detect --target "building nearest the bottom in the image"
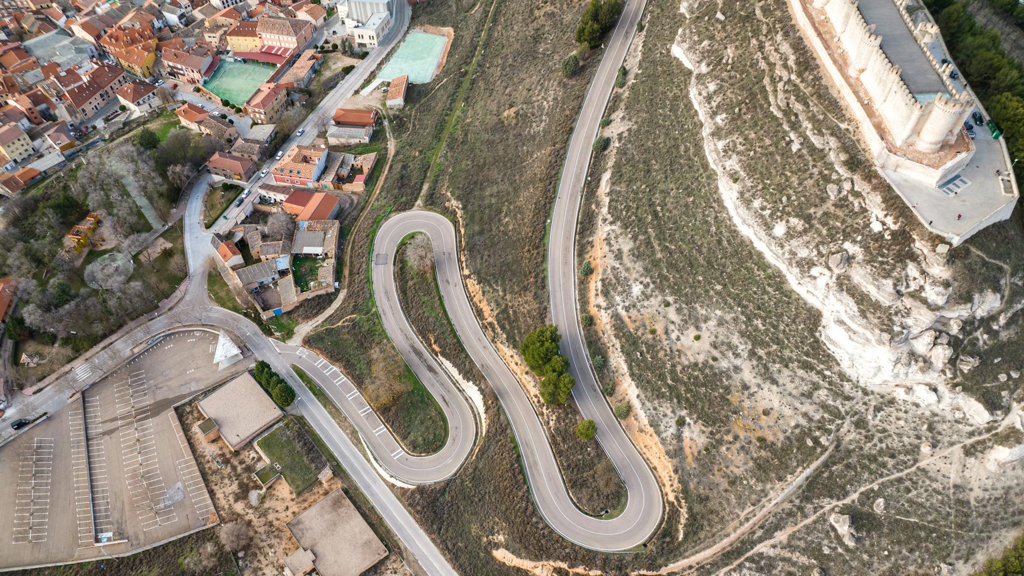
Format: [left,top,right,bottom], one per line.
[283,487,389,576]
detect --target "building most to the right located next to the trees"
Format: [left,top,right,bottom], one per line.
[815,0,981,154]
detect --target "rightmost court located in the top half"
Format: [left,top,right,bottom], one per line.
[376,31,448,85]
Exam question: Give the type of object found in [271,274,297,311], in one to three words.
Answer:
barn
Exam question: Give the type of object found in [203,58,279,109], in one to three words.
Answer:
sports court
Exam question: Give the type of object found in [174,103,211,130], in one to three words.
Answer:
house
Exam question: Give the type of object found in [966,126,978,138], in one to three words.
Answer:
vehicle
